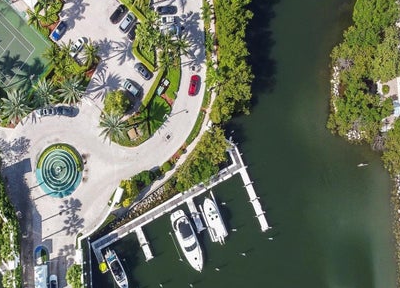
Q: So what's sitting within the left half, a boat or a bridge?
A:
boat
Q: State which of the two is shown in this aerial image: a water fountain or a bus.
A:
water fountain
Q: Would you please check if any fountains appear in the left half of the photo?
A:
Yes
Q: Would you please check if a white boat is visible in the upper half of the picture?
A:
No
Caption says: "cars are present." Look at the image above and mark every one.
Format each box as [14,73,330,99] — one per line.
[55,104,76,119]
[49,20,69,43]
[132,61,153,82]
[156,3,178,17]
[159,14,179,26]
[118,11,138,36]
[186,74,201,97]
[36,106,56,118]
[48,275,58,288]
[108,2,129,27]
[120,76,142,99]
[125,23,144,44]
[68,37,88,59]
